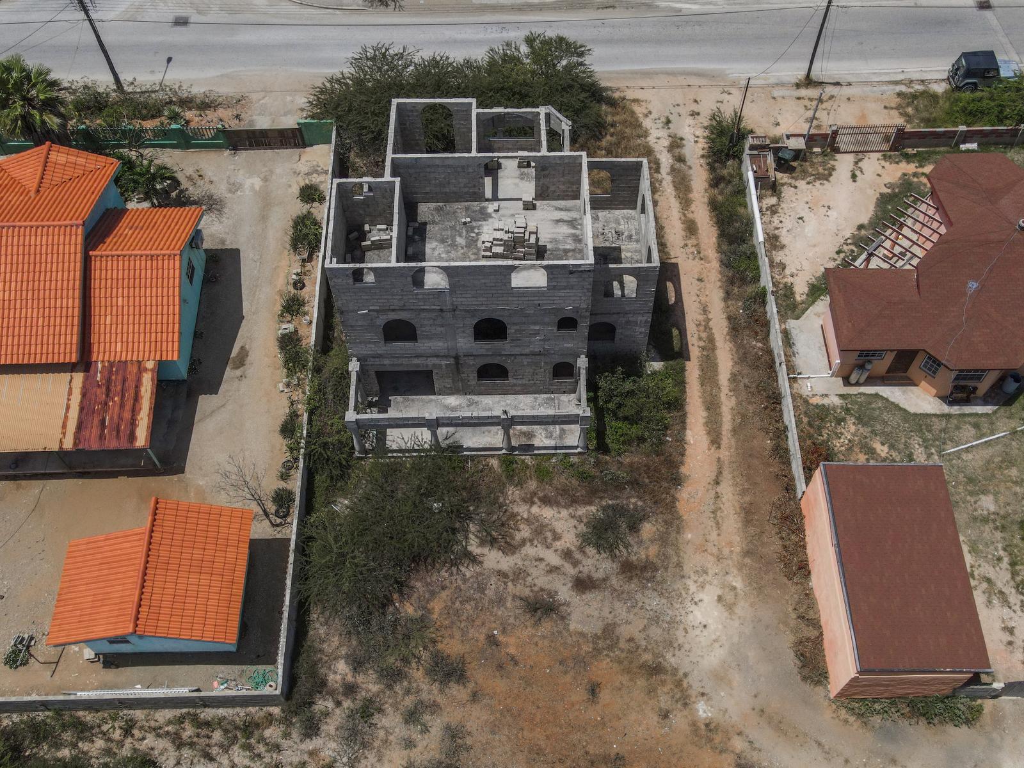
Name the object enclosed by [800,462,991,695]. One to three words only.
shed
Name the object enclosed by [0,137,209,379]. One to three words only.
house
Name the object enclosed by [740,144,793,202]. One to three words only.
building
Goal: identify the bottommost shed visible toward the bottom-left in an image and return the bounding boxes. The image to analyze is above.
[44,498,254,654]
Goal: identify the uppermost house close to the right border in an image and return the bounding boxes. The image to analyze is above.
[819,152,1024,404]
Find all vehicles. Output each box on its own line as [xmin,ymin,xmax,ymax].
[946,41,1024,85]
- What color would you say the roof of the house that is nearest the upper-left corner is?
orange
